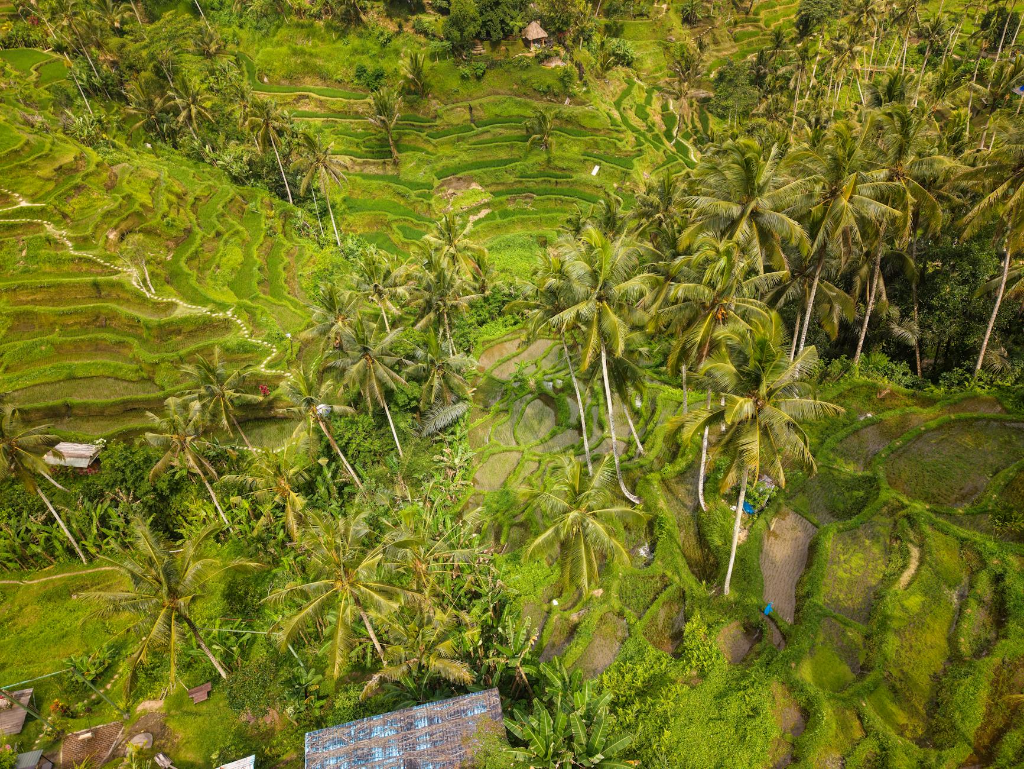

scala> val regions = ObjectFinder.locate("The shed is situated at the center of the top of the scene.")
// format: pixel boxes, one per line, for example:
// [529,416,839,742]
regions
[520,18,551,56]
